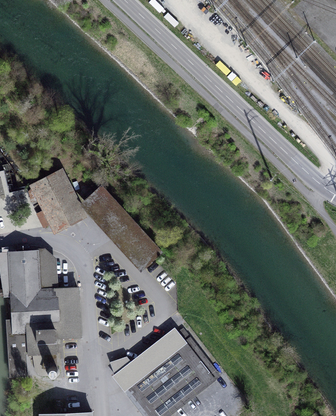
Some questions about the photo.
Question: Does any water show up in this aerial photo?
Yes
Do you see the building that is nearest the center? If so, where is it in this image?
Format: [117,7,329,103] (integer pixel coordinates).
[83,186,160,270]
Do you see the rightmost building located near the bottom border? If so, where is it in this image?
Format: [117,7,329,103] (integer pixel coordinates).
[112,328,217,416]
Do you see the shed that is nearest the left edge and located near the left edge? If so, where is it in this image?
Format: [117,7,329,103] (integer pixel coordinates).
[6,320,27,378]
